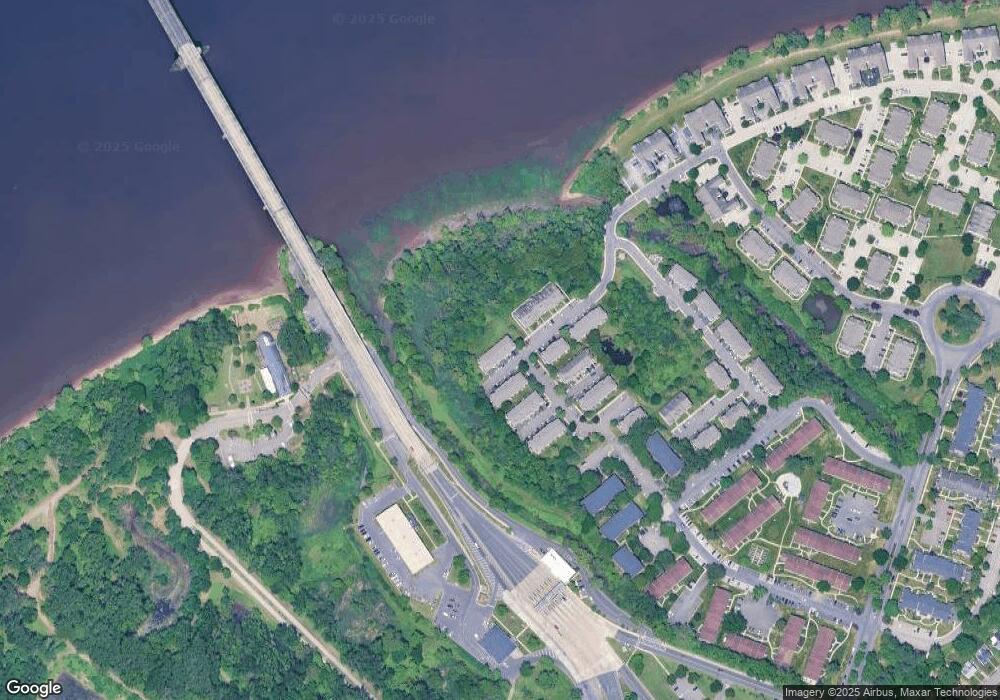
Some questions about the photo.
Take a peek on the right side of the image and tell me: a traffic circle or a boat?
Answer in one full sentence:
There is a traffic circle on the right side of the image.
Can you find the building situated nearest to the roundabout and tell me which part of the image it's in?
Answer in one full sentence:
You can find the building situated nearest to the roundabout in the right area of the picture.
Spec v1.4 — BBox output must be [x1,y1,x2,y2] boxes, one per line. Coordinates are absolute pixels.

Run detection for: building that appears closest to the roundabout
[883,334,918,379]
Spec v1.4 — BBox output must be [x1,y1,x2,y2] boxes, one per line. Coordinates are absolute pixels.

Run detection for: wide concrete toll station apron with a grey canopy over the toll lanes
[501,562,626,682]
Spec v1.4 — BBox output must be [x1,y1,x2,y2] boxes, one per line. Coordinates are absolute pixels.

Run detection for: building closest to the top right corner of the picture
[962,26,1000,67]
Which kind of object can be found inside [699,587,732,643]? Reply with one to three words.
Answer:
building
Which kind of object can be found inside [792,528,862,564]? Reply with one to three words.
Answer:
building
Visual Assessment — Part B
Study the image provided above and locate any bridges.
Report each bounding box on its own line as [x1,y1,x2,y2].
[149,0,441,474]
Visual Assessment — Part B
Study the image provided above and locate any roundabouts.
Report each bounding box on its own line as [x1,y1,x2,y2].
[919,277,997,356]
